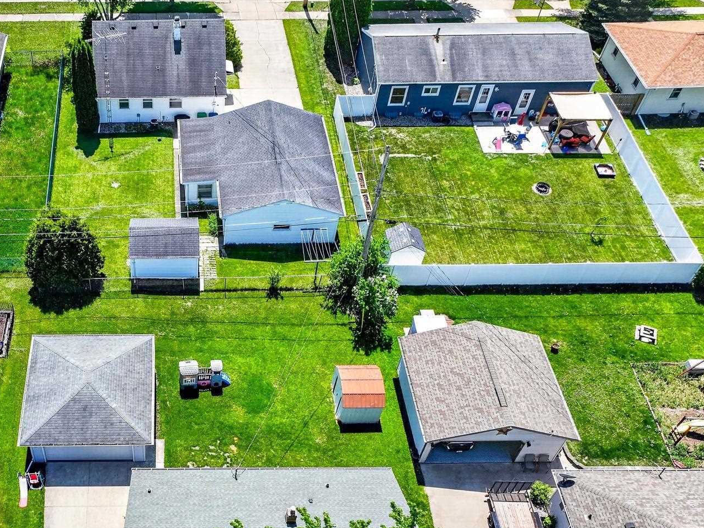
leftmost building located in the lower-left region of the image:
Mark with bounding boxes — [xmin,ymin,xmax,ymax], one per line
[17,334,156,477]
